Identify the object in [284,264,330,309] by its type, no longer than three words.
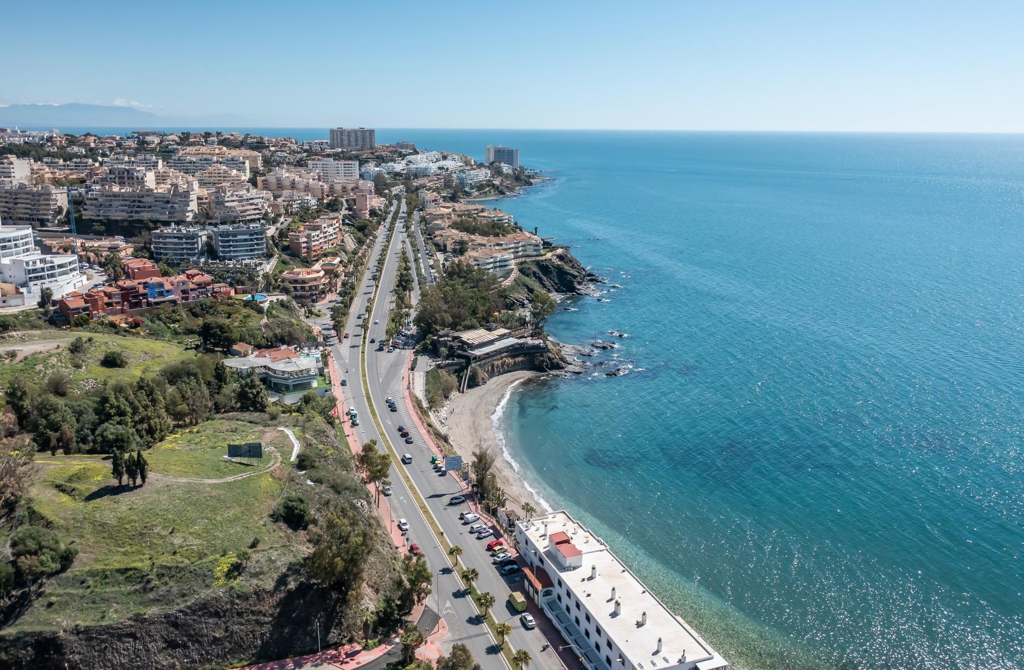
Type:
building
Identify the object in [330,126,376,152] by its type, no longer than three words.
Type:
building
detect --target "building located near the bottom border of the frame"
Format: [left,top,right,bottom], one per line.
[514,510,732,670]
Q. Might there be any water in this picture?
Yes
